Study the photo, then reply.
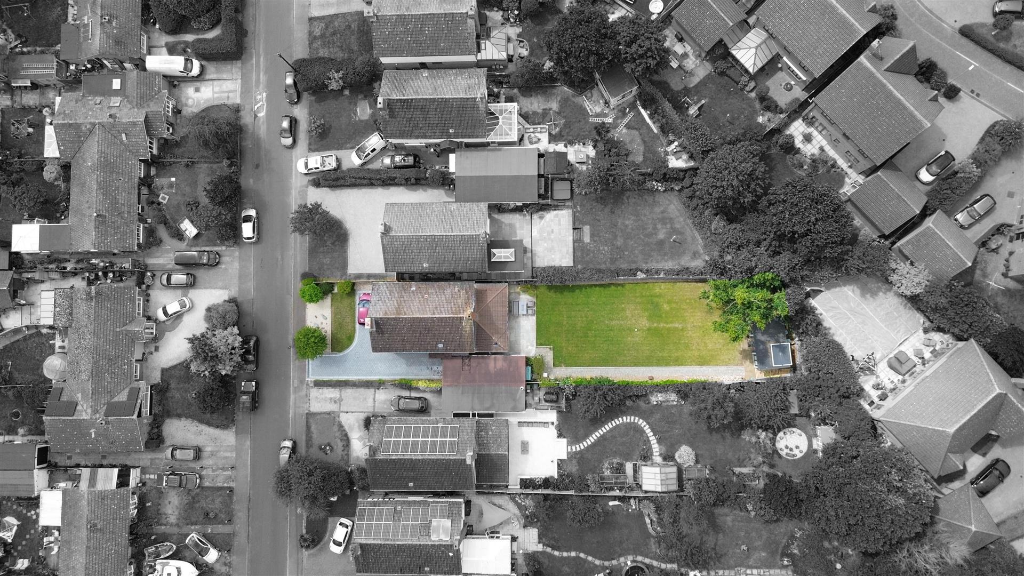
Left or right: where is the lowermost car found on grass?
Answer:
left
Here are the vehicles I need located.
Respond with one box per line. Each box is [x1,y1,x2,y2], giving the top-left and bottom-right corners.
[237,380,258,413]
[953,194,997,226]
[279,114,298,148]
[187,530,220,563]
[282,72,301,105]
[971,459,1008,495]
[917,150,955,183]
[351,132,387,166]
[329,516,353,554]
[167,444,202,463]
[278,434,297,469]
[356,292,371,326]
[298,154,340,173]
[173,249,222,268]
[157,295,194,322]
[382,151,421,170]
[988,0,1024,17]
[391,395,428,413]
[161,271,197,289]
[240,209,259,243]
[143,55,205,79]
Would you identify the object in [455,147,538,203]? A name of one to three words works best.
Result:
building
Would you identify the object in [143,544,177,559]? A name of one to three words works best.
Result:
boat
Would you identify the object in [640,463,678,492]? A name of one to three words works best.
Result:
greenhouse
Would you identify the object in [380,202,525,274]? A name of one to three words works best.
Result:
house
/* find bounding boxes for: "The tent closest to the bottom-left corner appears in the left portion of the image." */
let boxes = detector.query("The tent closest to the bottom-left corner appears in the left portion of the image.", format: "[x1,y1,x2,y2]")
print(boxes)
[39,352,68,381]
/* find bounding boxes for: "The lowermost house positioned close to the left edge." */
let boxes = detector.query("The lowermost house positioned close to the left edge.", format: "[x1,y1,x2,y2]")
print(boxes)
[39,484,147,576]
